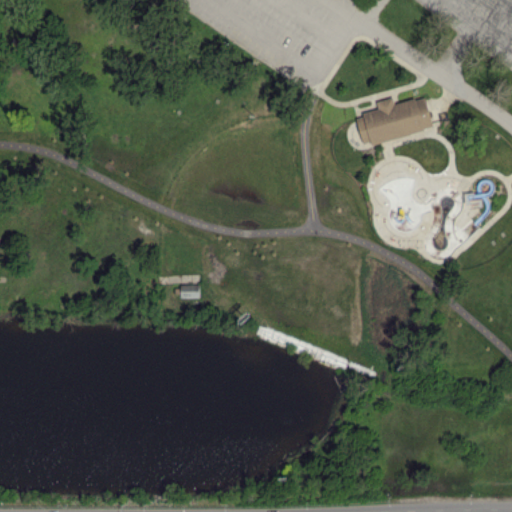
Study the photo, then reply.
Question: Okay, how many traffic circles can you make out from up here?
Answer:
0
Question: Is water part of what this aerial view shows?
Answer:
Yes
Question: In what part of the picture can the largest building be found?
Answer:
top right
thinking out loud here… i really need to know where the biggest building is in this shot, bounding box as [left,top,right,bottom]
[356,96,434,146]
